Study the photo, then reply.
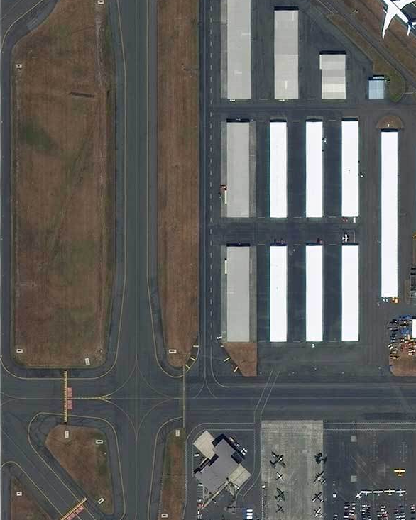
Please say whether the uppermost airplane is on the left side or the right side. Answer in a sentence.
It is on the right.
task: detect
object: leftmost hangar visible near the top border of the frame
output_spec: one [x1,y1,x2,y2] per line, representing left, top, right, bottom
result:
[227,0,252,99]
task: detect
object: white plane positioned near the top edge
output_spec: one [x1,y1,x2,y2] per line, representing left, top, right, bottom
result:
[384,0,416,39]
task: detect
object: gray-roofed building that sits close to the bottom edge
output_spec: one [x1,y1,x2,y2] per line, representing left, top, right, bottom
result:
[194,439,240,494]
